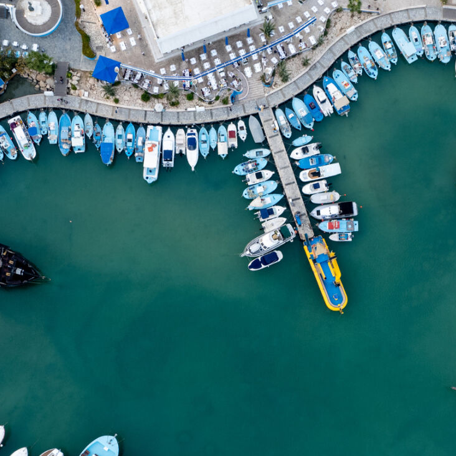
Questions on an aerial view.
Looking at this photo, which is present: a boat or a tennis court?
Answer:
boat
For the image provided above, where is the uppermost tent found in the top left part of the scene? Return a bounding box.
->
[101,7,129,37]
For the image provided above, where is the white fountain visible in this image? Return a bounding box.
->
[11,0,64,39]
